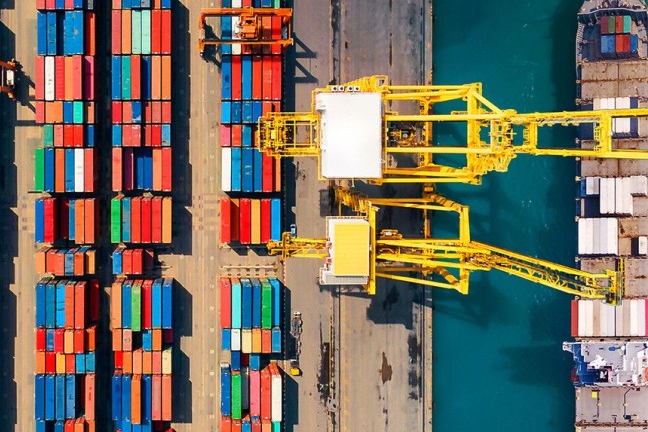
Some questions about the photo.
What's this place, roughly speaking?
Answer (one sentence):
It's a port.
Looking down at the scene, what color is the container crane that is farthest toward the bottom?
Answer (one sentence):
From above, the container crane that is farthest toward the bottom appears yellow.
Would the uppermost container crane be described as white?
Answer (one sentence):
No, the uppermost container crane is actually orange.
